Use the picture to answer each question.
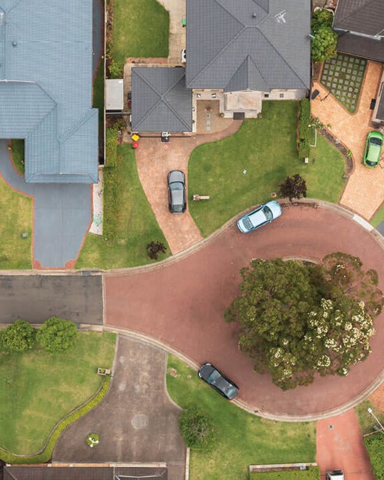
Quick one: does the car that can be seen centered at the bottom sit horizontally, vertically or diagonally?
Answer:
diagonally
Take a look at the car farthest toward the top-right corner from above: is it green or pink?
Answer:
green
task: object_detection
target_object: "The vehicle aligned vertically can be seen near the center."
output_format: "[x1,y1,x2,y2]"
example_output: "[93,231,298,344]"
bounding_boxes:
[167,170,187,214]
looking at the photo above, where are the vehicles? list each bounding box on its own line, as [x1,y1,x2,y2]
[167,170,187,214]
[326,468,346,480]
[362,130,384,169]
[198,363,241,399]
[236,201,282,234]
